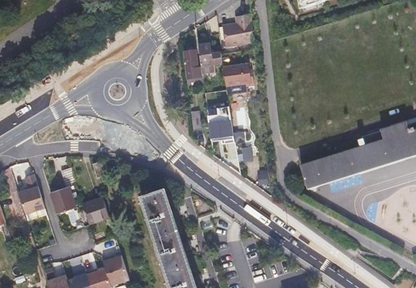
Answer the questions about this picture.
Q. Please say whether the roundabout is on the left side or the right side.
left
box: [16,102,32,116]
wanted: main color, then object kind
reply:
white vehicle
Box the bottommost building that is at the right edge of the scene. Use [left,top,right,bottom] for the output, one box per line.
[300,121,416,190]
